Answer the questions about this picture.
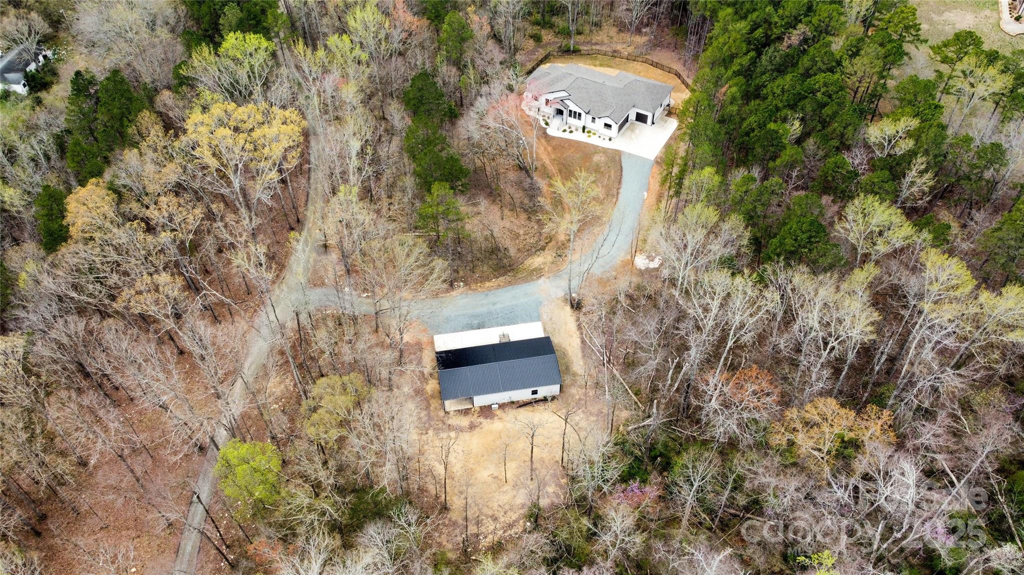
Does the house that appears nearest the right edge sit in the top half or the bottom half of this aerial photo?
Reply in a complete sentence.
It is in the top half that the house that appears nearest the right edge appears.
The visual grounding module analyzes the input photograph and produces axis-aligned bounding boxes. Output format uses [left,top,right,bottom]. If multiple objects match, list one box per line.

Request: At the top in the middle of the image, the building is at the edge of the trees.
[525,62,677,137]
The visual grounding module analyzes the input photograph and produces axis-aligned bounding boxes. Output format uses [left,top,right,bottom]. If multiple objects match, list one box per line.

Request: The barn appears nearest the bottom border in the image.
[433,322,564,412]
